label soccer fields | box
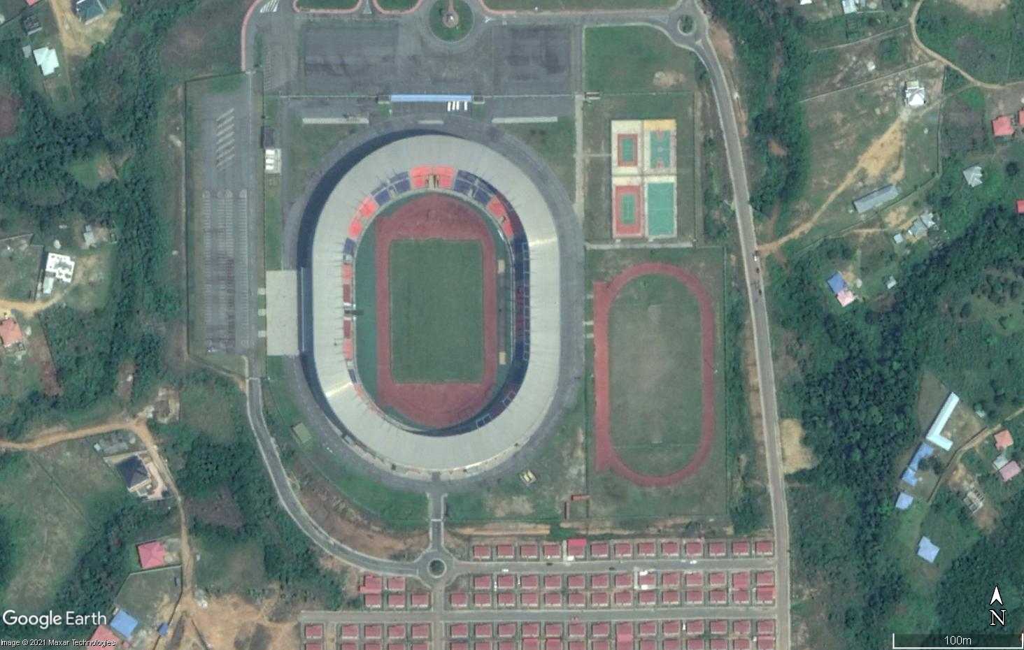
[610,275,703,476]
[389,239,484,384]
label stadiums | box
[301,134,561,482]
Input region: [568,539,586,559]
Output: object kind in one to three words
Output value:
house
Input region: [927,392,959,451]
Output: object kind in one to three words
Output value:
building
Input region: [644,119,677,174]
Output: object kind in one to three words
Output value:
basketball court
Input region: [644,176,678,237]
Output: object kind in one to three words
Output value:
sports court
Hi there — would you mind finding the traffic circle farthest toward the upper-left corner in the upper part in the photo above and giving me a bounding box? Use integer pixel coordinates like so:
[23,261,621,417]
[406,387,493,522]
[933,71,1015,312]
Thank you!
[421,0,480,47]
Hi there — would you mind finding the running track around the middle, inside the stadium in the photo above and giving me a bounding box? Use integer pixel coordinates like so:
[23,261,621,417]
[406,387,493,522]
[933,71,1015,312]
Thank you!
[356,191,514,430]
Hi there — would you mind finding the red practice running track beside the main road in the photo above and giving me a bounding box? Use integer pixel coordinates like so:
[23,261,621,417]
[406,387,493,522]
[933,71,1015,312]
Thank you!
[593,262,715,487]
